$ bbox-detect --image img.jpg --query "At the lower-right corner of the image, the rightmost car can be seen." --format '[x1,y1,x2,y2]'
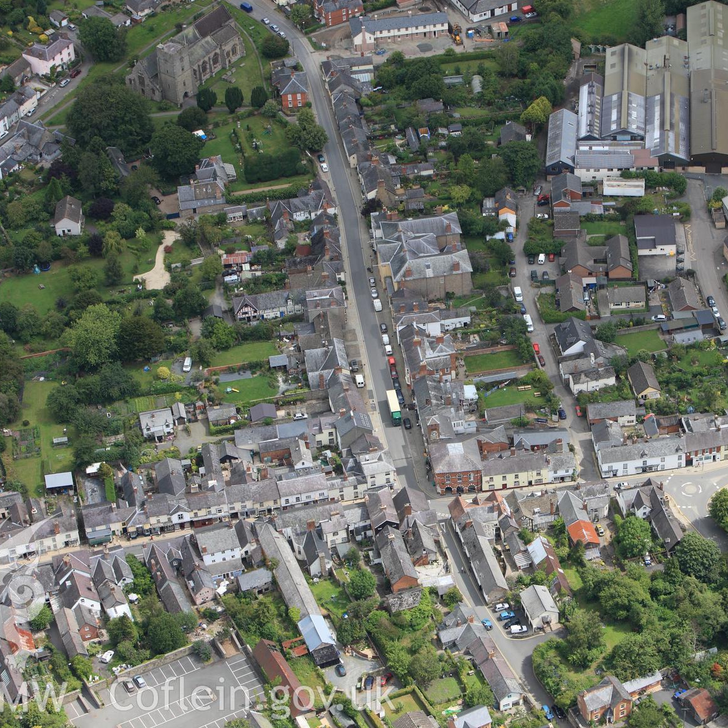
[672,687,688,700]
